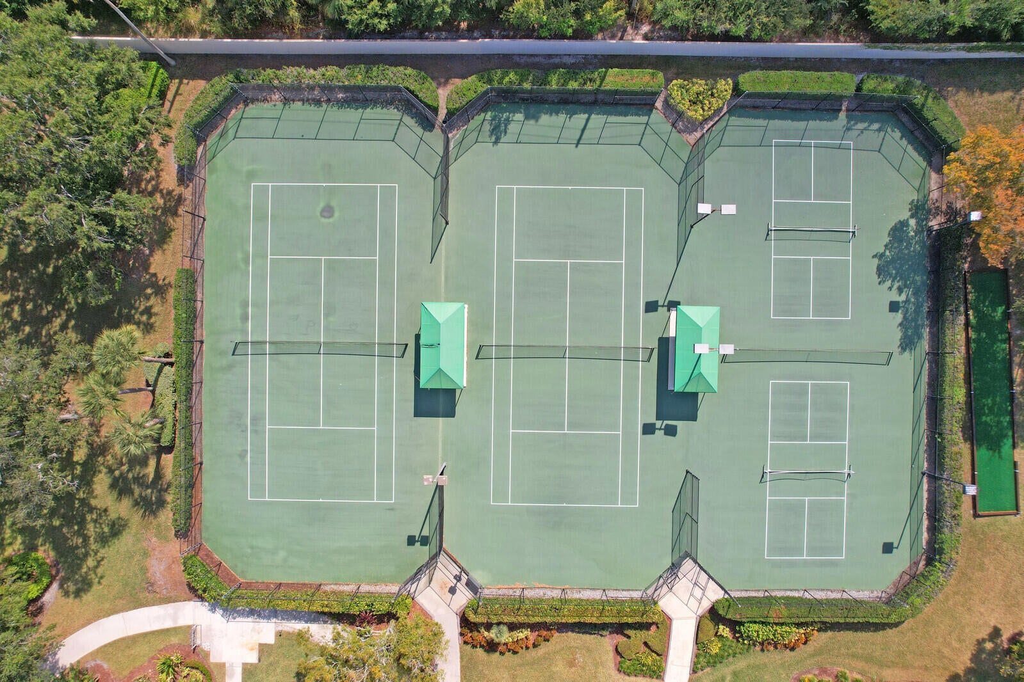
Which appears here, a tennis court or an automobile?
tennis court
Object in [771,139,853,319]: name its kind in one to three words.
sports court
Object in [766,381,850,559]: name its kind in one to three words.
sports court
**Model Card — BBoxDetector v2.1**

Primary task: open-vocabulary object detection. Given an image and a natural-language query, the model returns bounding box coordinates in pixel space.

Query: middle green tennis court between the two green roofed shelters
[443,103,692,590]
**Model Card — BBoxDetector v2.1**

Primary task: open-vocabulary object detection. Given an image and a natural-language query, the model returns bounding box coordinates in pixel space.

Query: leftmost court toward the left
[201,102,449,585]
